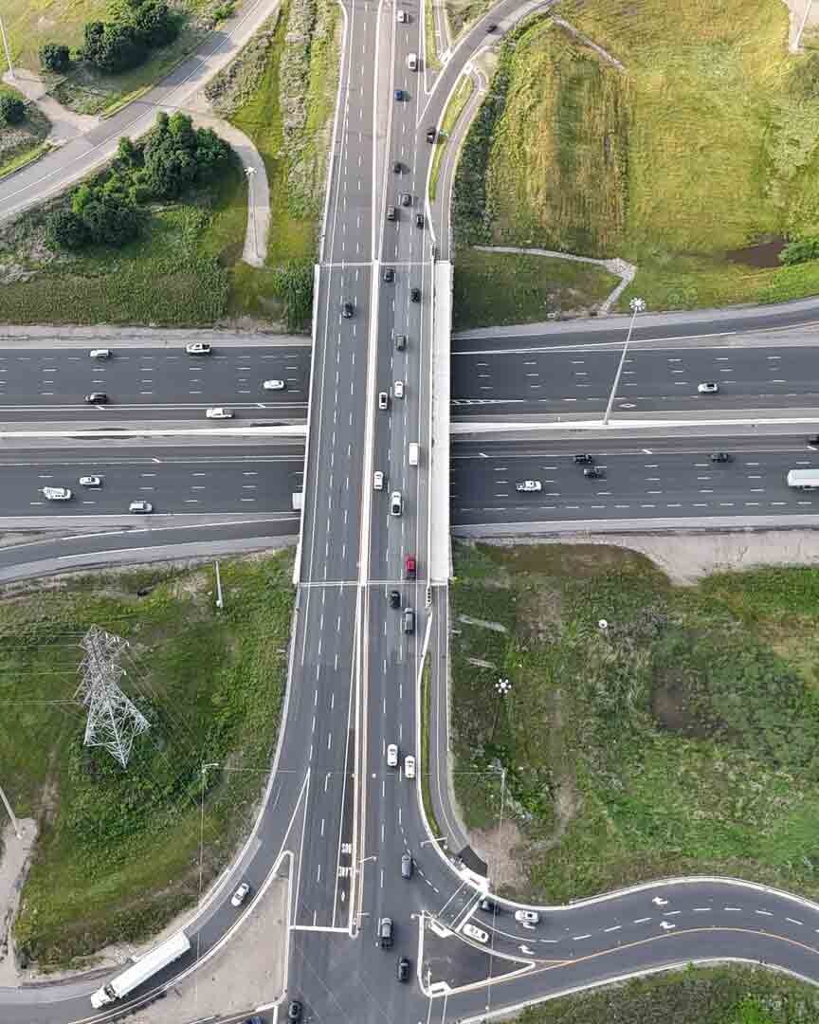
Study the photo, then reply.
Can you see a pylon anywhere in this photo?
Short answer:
Yes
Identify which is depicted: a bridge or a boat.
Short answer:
bridge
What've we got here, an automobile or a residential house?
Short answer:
automobile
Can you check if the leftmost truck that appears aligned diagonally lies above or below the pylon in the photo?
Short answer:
below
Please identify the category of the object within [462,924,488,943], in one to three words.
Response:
car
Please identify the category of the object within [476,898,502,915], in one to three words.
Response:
car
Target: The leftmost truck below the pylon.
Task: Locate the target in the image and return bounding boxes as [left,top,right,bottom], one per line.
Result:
[83,924,197,1013]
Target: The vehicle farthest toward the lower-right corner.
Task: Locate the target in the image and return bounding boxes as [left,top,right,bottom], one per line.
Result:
[515,910,540,924]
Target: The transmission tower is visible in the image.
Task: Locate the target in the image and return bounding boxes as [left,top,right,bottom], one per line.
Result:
[58,617,149,765]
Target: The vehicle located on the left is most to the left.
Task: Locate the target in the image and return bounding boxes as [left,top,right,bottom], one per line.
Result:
[40,487,71,500]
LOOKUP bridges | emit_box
[289,244,455,611]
